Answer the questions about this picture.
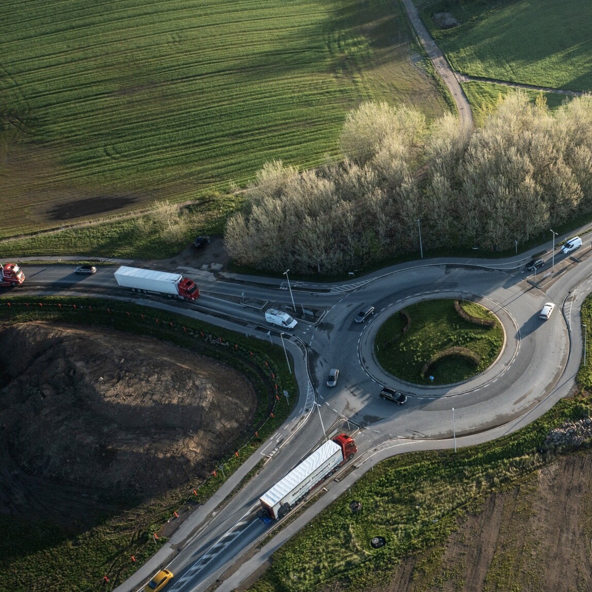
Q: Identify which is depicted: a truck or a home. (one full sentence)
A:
The one in the frame is a truck.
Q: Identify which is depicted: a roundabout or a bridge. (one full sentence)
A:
The one in the frame is a roundabout.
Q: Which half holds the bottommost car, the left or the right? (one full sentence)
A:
You can find the bottommost car on the left side of the picture.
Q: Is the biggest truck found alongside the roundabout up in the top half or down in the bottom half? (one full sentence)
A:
You can find the biggest truck found alongside the roundabout in the bottom half.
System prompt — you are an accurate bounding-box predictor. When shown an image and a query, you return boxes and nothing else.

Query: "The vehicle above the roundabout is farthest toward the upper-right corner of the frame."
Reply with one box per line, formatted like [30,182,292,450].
[562,235,582,252]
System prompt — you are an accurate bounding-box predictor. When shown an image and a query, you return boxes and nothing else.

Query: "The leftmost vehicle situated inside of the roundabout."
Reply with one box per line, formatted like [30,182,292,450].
[324,366,339,386]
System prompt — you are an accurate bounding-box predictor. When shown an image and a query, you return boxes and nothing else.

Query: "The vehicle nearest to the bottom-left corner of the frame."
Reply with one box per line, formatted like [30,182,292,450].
[142,566,174,592]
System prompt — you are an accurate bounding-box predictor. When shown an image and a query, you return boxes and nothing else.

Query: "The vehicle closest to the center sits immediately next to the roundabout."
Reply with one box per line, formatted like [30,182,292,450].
[263,305,296,328]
